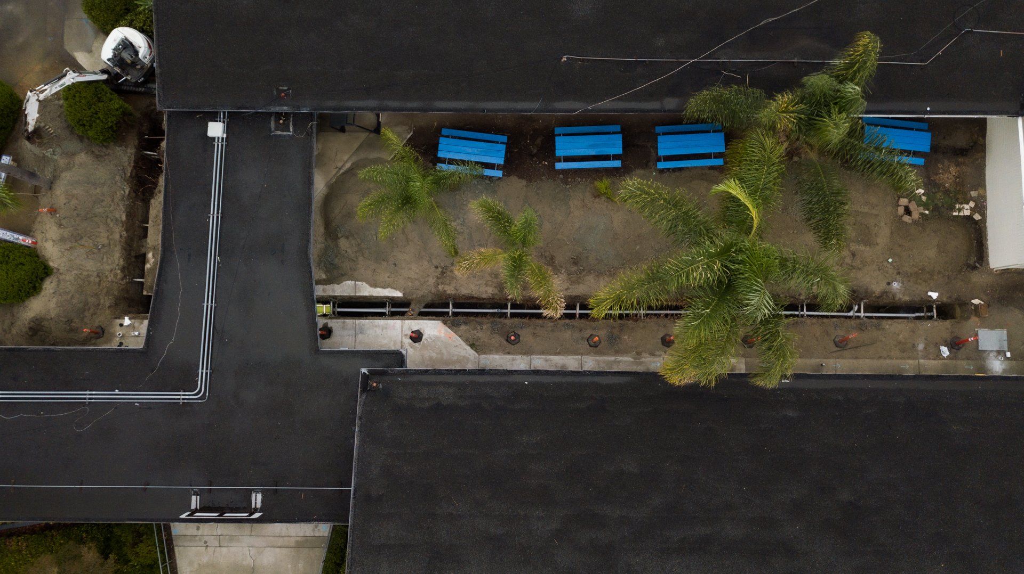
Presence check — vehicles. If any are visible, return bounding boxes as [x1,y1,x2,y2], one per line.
[23,27,156,141]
